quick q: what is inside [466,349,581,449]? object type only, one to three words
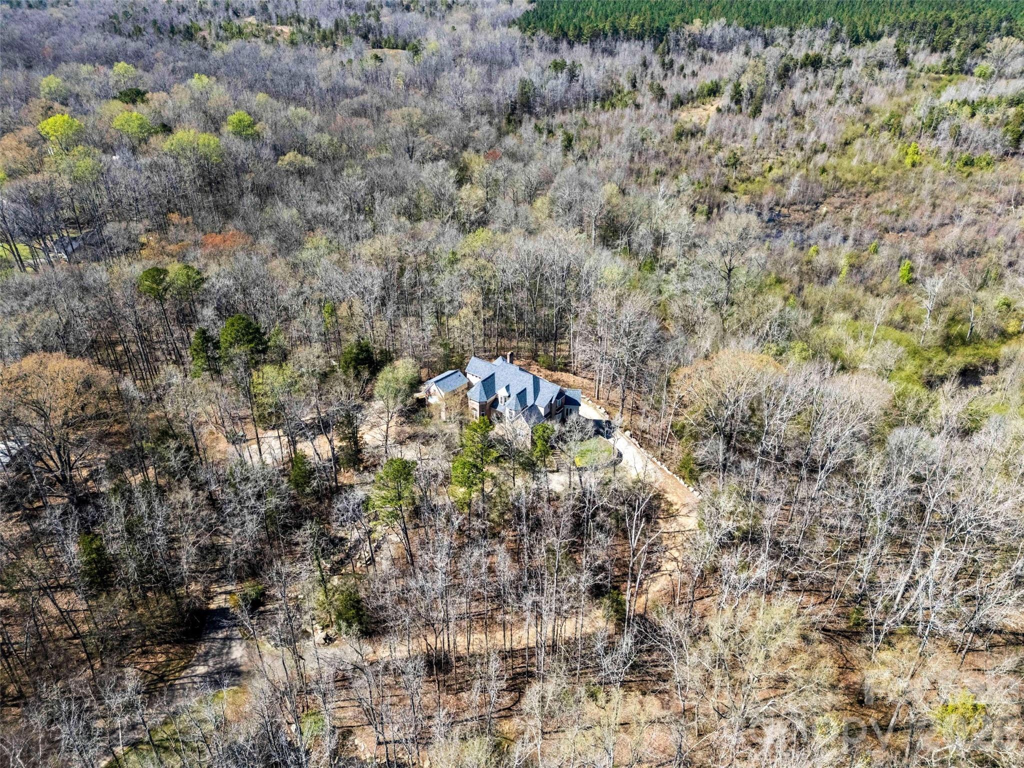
house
